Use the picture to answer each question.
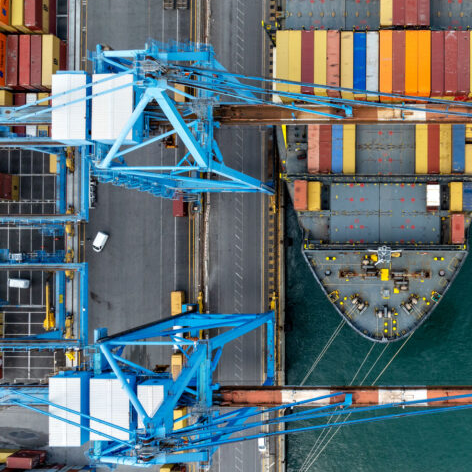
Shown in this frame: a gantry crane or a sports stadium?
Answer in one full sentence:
It is a gantry crane that can be seen here.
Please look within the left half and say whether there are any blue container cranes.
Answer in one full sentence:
Yes, a blue container crane appears within the left half.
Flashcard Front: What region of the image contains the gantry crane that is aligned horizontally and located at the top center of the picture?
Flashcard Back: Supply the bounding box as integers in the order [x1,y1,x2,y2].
[0,40,472,215]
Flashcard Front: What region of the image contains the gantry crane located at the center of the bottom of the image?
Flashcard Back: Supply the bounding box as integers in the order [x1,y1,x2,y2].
[0,286,472,472]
